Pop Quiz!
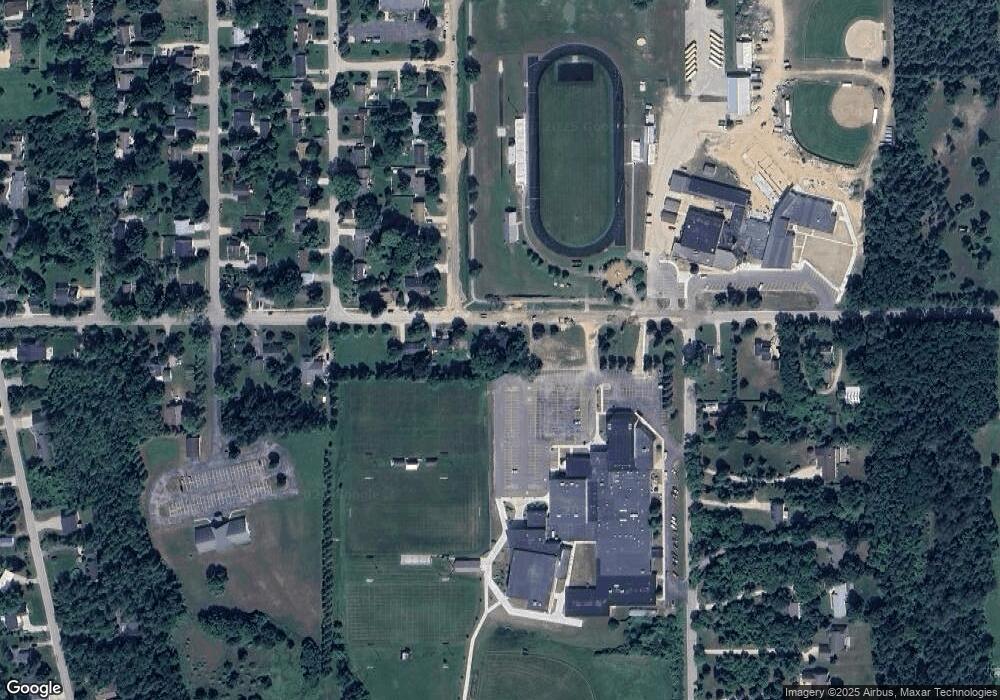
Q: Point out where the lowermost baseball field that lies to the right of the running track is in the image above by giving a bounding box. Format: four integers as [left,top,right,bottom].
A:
[792,82,875,165]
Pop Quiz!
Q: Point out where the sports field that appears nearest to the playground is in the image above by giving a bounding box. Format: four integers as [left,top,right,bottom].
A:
[540,56,611,245]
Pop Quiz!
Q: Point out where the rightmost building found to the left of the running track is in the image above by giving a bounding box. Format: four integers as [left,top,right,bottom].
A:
[504,212,519,243]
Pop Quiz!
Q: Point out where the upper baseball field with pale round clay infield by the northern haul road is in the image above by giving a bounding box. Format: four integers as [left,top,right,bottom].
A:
[804,0,885,62]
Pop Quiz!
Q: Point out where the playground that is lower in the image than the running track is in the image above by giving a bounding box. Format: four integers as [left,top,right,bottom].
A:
[604,260,632,286]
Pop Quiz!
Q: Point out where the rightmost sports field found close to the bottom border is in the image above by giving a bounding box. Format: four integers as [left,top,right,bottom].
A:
[482,653,594,700]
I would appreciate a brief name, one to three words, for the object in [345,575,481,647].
sports field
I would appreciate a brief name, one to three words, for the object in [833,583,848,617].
barn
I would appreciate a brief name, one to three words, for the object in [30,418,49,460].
house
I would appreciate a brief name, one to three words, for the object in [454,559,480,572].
building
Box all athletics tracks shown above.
[526,43,625,258]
